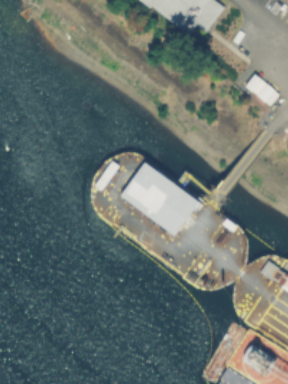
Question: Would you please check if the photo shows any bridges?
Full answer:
Yes, the image includes a bridge.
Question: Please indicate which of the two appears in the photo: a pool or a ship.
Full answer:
Visible in the photo is a ship.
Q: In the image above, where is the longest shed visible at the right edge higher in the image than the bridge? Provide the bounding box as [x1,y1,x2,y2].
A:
[246,74,280,106]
